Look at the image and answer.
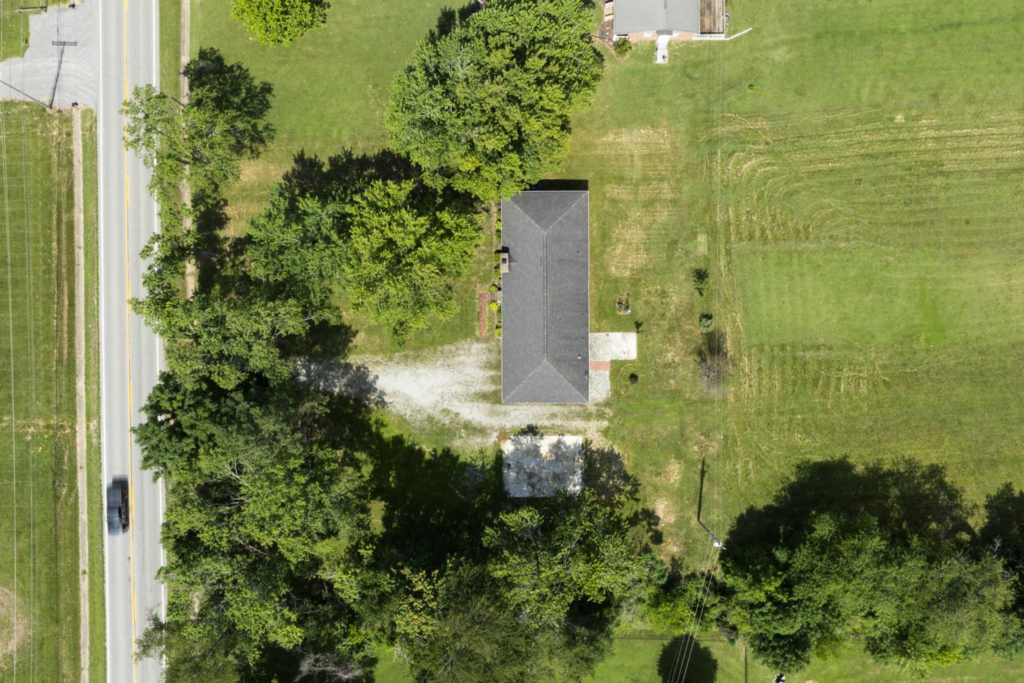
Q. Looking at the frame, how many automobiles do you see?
1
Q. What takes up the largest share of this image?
grass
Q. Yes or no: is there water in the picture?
No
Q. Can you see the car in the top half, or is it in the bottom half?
bottom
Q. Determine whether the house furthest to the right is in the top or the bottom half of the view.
top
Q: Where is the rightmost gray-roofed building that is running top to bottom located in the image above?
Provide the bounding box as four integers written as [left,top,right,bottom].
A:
[501,190,590,403]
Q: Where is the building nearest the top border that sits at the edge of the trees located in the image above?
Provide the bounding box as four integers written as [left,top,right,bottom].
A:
[604,0,701,42]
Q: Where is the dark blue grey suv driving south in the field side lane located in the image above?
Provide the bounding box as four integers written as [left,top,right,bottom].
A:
[104,491,128,536]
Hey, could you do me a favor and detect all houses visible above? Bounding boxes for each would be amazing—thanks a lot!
[501,190,590,403]
[604,0,701,42]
